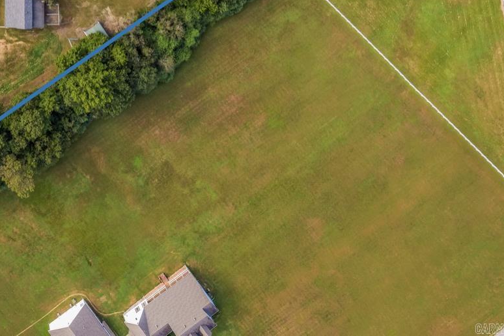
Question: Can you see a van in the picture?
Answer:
No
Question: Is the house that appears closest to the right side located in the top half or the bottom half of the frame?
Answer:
bottom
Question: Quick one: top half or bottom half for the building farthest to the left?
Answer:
top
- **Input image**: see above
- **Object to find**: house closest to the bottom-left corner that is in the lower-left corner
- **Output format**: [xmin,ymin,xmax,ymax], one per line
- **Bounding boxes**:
[47,301,113,336]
